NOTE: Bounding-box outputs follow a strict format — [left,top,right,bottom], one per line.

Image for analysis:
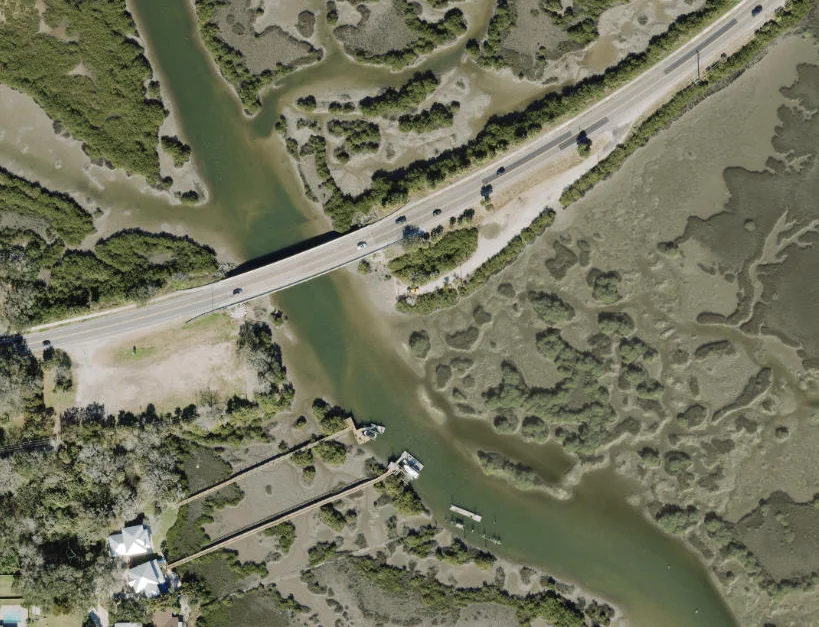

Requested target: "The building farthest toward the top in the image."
[106,526,150,557]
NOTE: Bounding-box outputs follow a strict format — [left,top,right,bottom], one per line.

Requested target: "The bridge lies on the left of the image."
[182,210,399,324]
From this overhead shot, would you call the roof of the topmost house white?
Yes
